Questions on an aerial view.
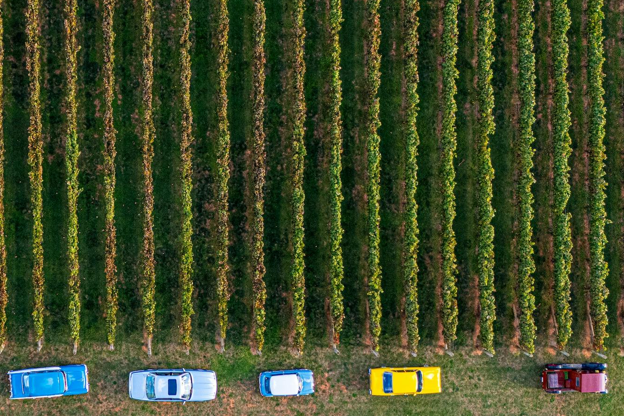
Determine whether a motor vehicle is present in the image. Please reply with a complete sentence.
Yes, the frame does contain a motor vehicle.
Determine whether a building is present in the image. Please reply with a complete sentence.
No, the frame has no building in it.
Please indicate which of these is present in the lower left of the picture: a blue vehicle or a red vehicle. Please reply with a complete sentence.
Visible in the lower left of the picture is a blue vehicle.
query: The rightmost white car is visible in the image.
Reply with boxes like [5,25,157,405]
[259,368,315,397]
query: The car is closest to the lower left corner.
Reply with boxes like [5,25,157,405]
[6,364,90,400]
